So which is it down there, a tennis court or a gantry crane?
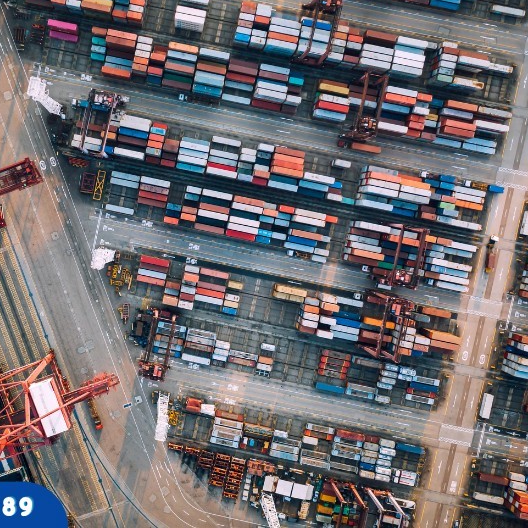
gantry crane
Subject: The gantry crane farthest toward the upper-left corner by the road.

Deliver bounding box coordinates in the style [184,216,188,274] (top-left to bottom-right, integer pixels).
[78,84,127,162]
